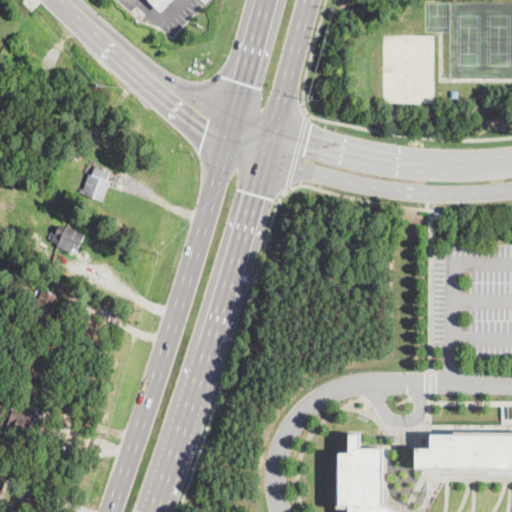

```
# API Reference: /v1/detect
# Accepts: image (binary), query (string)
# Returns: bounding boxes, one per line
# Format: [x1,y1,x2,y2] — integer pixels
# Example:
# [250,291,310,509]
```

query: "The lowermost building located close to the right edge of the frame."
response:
[414,432,512,471]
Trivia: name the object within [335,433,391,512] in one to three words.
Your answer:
building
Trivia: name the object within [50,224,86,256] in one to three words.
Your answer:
house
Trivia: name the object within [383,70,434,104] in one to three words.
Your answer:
sports court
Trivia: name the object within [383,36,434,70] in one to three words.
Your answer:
sports court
